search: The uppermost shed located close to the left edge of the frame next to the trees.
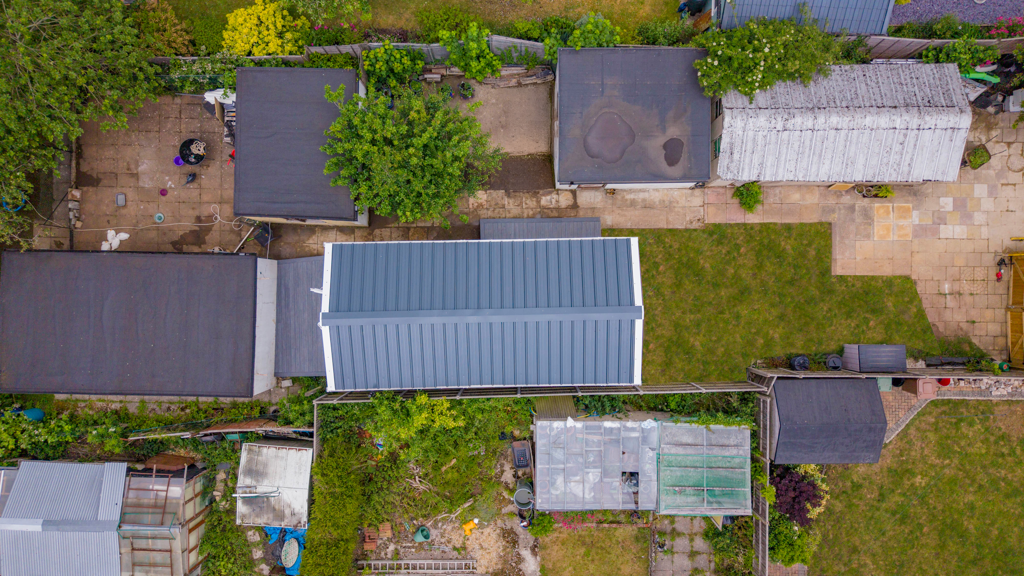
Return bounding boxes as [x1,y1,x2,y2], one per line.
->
[0,251,278,398]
